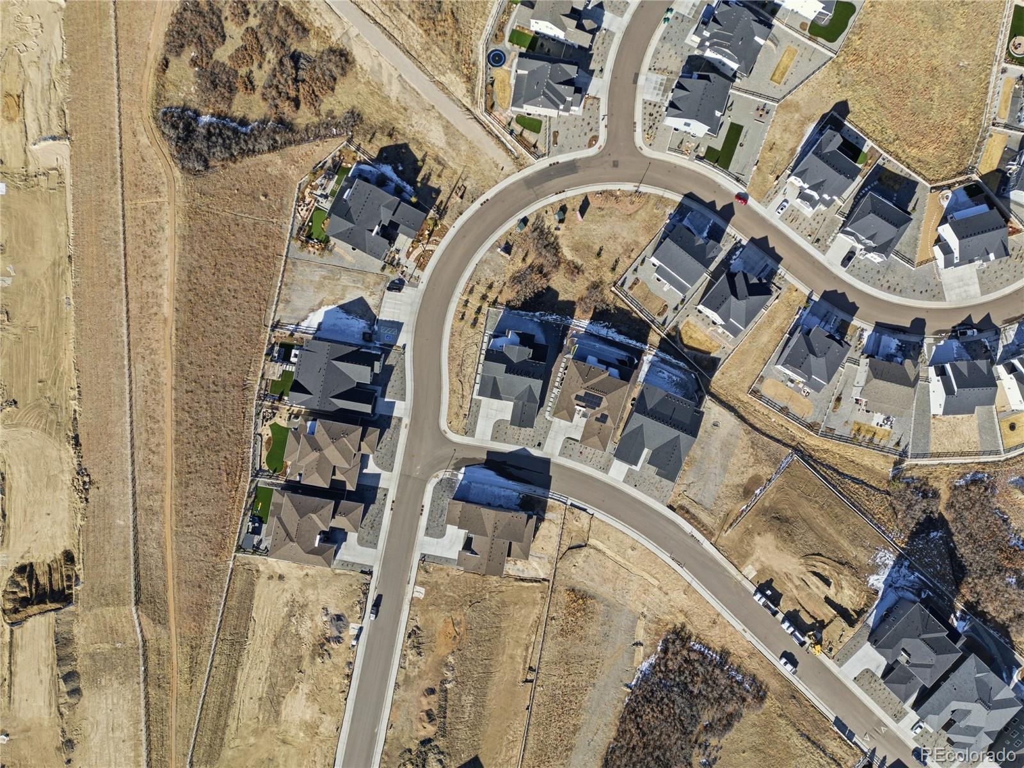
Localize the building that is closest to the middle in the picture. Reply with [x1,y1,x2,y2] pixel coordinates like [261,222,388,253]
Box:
[479,336,545,427]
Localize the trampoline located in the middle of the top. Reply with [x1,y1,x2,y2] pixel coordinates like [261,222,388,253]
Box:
[488,47,506,64]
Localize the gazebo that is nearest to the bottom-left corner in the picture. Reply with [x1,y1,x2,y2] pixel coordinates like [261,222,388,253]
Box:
[236,534,253,552]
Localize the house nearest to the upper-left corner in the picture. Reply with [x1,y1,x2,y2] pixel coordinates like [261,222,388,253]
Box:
[326,176,429,262]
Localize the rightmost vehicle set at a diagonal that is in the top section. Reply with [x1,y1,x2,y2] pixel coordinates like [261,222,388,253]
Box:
[841,248,860,270]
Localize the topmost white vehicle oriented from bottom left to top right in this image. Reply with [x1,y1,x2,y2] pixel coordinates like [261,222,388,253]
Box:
[775,195,792,215]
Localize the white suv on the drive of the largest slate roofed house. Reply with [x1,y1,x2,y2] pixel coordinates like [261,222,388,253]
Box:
[910,719,931,738]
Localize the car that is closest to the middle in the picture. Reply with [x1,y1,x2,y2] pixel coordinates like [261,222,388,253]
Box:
[388,275,403,295]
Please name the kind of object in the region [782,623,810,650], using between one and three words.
truck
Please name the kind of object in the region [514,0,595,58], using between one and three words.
house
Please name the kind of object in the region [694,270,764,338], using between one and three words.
house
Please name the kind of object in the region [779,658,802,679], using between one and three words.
car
